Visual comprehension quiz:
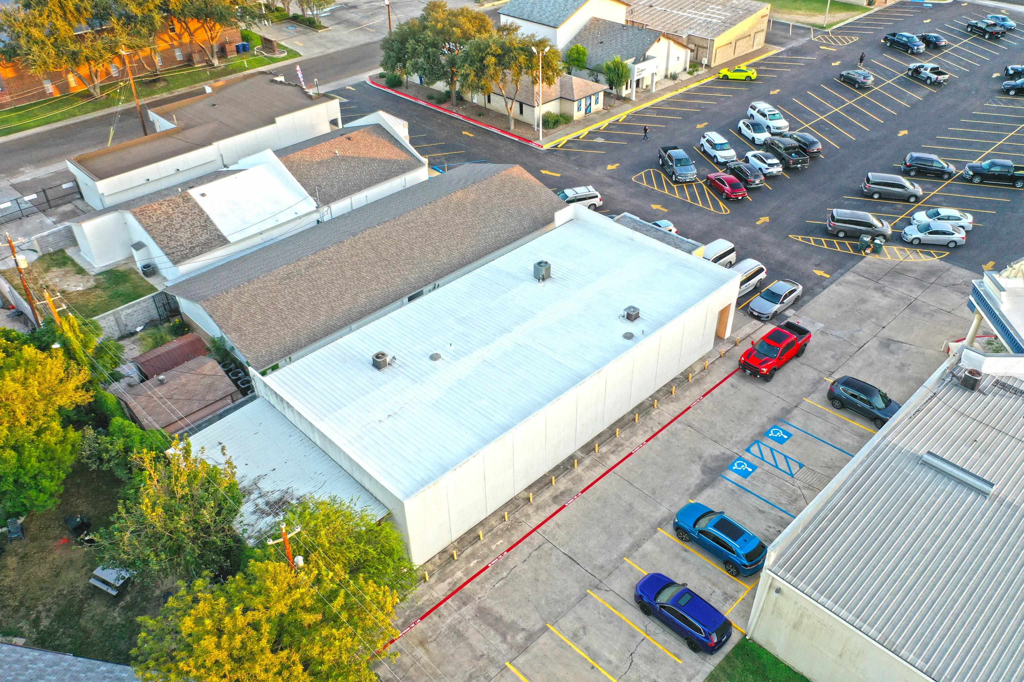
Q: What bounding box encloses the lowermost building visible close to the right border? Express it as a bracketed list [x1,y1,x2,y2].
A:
[744,342,1024,682]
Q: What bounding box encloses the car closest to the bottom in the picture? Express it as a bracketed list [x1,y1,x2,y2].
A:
[635,575,734,660]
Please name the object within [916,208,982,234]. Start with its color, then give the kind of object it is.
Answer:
white car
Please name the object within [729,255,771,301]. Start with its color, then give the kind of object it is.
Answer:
white car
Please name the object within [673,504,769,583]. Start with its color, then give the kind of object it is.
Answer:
blue car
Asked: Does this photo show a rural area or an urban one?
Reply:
urban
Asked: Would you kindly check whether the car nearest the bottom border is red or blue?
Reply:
blue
